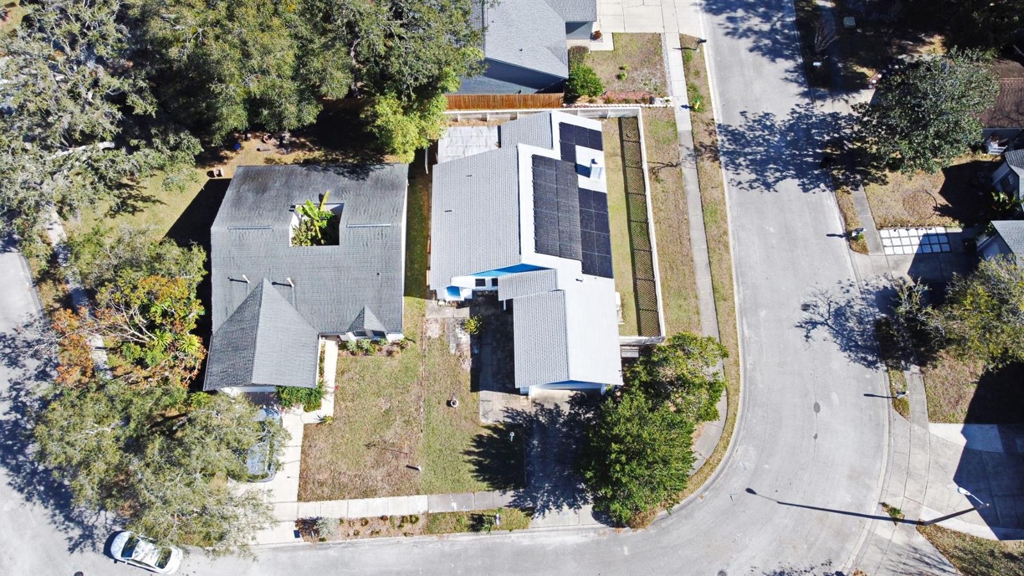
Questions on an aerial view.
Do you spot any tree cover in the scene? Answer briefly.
Yes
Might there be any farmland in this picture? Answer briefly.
No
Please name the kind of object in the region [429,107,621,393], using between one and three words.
house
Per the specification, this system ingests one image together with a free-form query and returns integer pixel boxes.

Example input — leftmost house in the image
[206,161,410,398]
